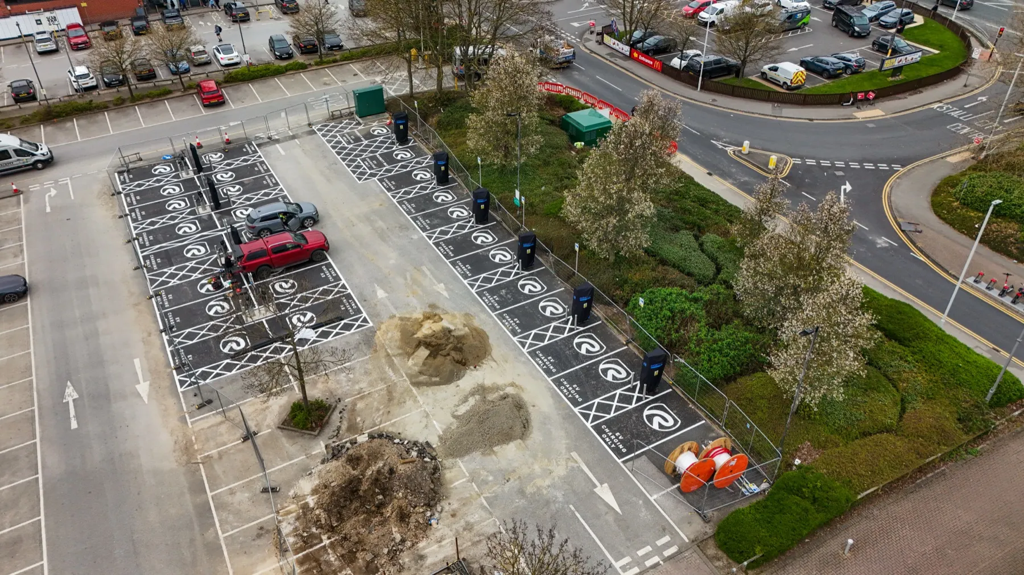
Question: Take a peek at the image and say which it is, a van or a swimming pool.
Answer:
van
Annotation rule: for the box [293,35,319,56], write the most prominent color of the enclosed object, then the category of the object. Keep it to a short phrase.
black car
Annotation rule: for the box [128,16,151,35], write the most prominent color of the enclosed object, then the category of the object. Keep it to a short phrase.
black car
